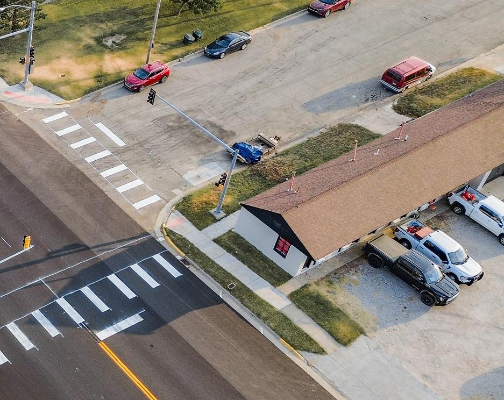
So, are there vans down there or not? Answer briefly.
Yes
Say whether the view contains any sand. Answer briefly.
No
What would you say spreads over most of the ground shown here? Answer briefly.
paved ground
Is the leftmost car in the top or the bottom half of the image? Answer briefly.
top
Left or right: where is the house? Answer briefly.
right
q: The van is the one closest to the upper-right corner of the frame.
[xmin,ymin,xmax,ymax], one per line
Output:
[378,57,437,92]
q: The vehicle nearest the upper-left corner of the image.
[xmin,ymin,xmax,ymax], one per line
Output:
[124,59,172,91]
